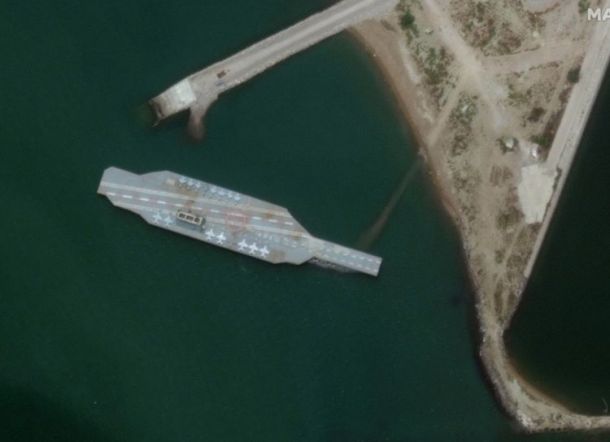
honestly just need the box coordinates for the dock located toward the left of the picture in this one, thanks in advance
[151,78,195,126]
